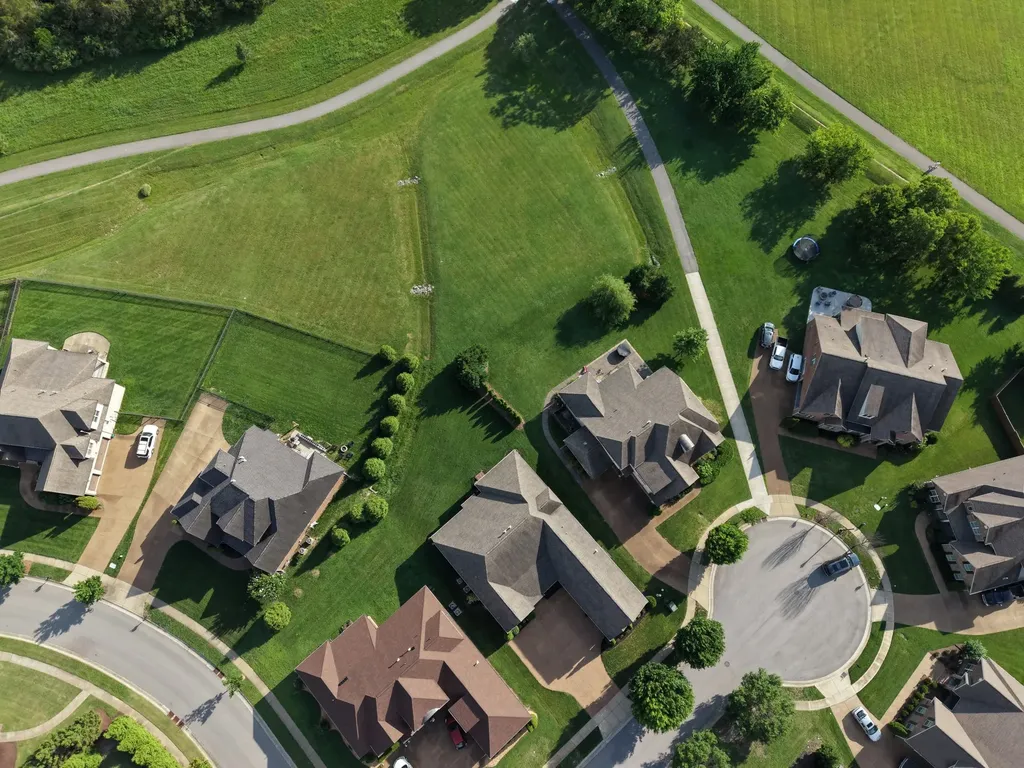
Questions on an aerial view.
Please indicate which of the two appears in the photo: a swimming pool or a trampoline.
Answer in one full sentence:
I can see a trampoline in this picture.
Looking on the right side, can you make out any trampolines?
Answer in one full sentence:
Yes, a trampoline is visible on the right side.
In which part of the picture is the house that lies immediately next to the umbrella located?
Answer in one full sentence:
The house that lies immediately next to the umbrella sits in the right section of the image.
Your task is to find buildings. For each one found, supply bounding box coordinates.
[923,455,1024,594]
[170,425,346,573]
[559,362,725,507]
[429,449,648,641]
[295,585,532,759]
[794,310,963,449]
[898,658,1024,768]
[0,338,126,496]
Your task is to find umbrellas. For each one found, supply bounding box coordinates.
[843,294,861,311]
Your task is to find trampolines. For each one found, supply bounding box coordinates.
[792,236,820,261]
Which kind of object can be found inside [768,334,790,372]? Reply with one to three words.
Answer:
truck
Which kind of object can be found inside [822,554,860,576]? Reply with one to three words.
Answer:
car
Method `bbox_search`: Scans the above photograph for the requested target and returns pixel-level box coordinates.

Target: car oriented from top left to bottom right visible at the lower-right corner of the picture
[849,704,881,743]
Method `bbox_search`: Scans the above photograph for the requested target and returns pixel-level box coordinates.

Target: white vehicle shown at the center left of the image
[136,425,159,461]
